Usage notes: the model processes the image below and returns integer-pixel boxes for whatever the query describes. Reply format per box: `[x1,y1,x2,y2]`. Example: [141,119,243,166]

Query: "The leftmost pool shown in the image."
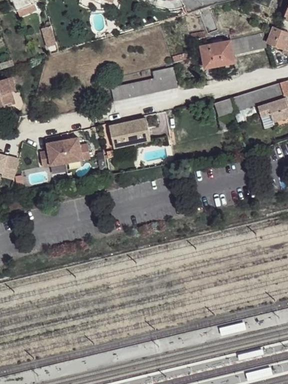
[28,170,48,184]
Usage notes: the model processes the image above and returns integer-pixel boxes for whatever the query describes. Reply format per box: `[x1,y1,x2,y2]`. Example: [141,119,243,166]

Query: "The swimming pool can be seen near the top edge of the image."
[90,11,106,32]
